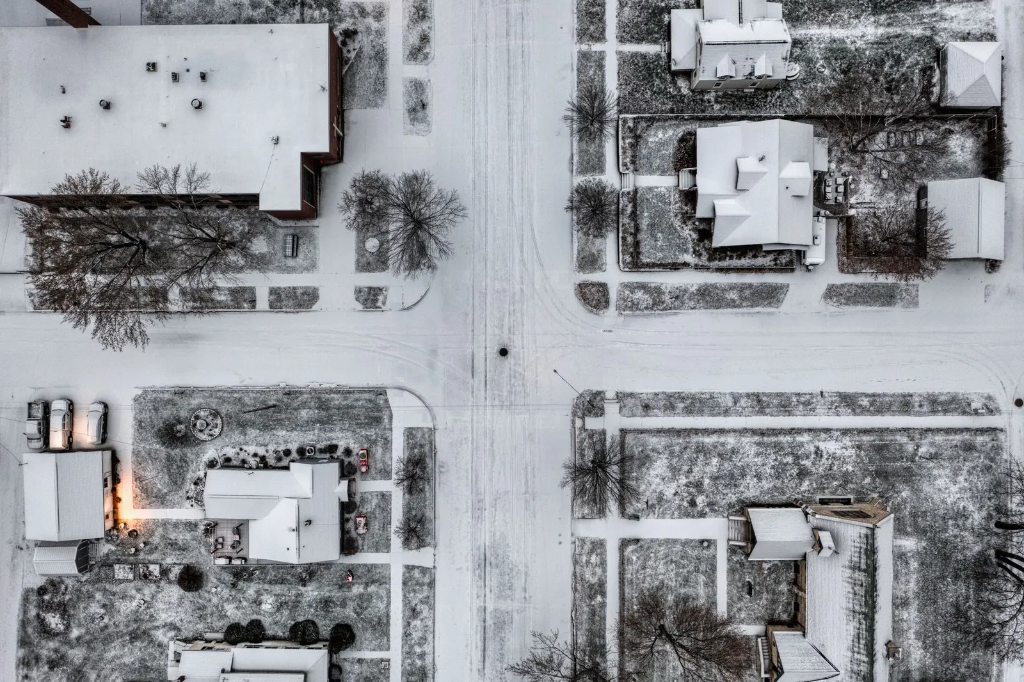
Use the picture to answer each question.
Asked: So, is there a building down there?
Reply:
Yes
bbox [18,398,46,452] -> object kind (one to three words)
truck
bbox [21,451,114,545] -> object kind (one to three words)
building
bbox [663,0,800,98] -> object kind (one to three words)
house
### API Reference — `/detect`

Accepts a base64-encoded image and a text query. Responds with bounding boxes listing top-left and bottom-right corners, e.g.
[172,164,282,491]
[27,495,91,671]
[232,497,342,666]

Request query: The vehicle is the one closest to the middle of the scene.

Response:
[357,449,369,472]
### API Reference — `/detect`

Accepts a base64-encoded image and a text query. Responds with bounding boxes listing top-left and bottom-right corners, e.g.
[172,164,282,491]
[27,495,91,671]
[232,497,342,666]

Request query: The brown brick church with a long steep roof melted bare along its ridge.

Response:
[726,493,901,682]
